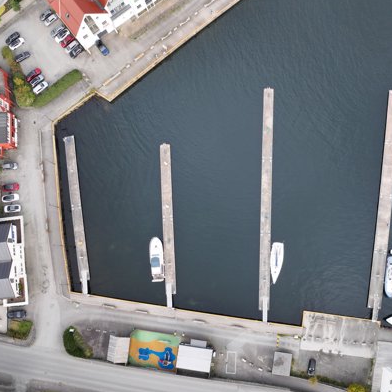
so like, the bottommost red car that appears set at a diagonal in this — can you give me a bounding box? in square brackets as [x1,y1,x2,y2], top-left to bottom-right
[26,67,42,81]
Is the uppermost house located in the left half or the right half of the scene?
left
